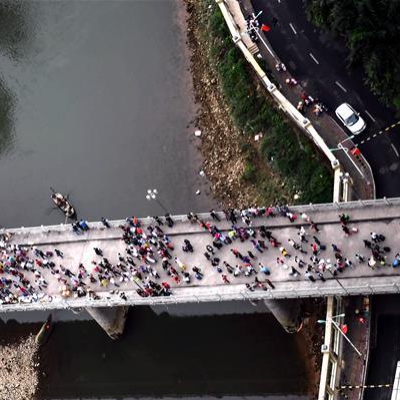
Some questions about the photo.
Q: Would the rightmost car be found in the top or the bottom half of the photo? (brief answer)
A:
top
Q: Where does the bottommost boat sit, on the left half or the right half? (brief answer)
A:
left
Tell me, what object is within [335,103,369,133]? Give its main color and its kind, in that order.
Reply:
white car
